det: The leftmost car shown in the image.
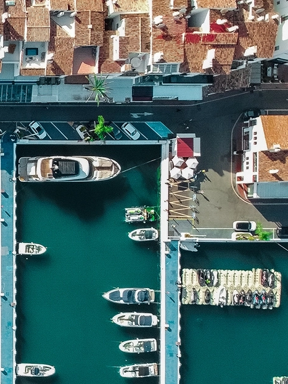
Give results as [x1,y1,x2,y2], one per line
[25,118,49,142]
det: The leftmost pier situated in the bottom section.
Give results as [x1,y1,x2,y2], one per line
[0,130,27,384]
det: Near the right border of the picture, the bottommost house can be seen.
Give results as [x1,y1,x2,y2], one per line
[235,114,288,195]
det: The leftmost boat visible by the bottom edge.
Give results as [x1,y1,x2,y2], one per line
[16,362,60,377]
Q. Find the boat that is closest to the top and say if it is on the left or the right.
left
